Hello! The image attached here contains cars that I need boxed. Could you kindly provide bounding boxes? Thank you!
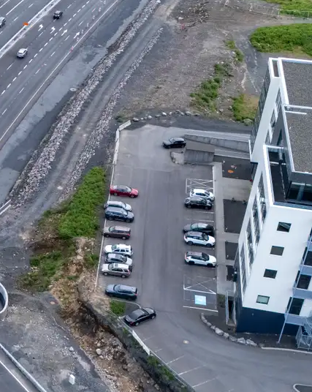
[105,282,138,299]
[104,251,133,266]
[184,193,213,209]
[111,185,138,199]
[102,226,133,240]
[16,48,27,58]
[122,309,157,326]
[185,230,215,247]
[101,261,131,277]
[184,222,214,237]
[161,135,187,147]
[190,186,215,200]
[104,241,134,257]
[185,250,216,267]
[106,207,134,223]
[0,15,6,27]
[104,198,133,213]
